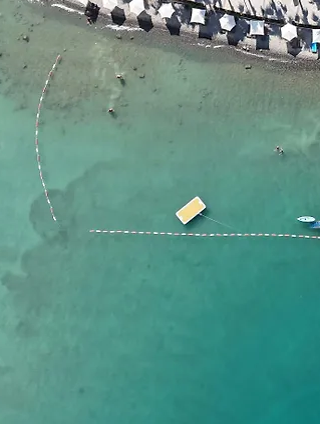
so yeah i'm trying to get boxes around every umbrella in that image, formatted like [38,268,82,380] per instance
[159,2,175,18]
[250,20,264,35]
[129,0,145,16]
[219,13,235,31]
[190,8,206,23]
[103,0,118,10]
[280,23,296,40]
[312,29,320,43]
